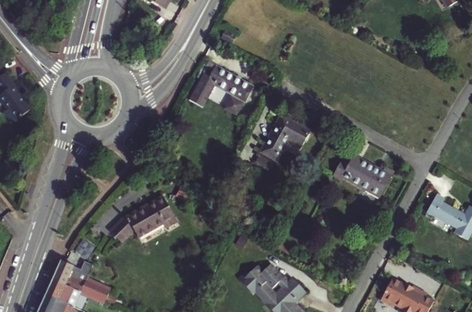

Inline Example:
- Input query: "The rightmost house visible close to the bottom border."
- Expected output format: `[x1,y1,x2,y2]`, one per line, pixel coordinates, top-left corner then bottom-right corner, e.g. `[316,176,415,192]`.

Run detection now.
[374,278,434,312]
